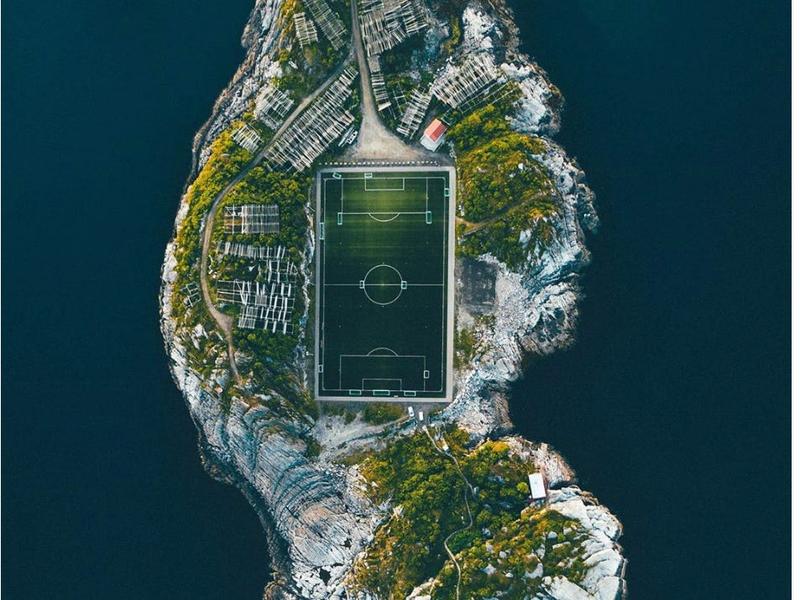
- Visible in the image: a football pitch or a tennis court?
football pitch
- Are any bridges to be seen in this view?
No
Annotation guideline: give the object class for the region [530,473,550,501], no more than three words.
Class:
shed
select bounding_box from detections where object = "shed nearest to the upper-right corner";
[421,116,448,145]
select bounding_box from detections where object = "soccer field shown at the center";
[316,166,455,402]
